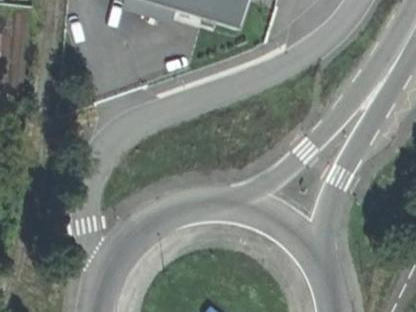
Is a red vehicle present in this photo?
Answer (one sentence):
No, there is no red vehicle in the image.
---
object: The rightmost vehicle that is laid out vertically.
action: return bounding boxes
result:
[107,0,123,28]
